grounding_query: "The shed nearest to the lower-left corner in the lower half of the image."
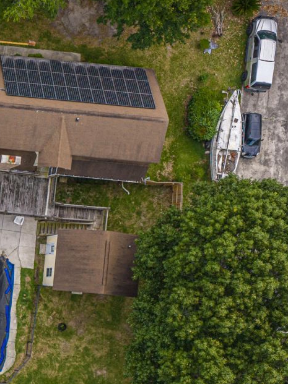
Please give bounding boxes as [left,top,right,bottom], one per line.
[42,227,142,298]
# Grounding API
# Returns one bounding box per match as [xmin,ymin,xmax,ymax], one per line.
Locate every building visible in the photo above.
[42,227,142,298]
[0,55,167,201]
